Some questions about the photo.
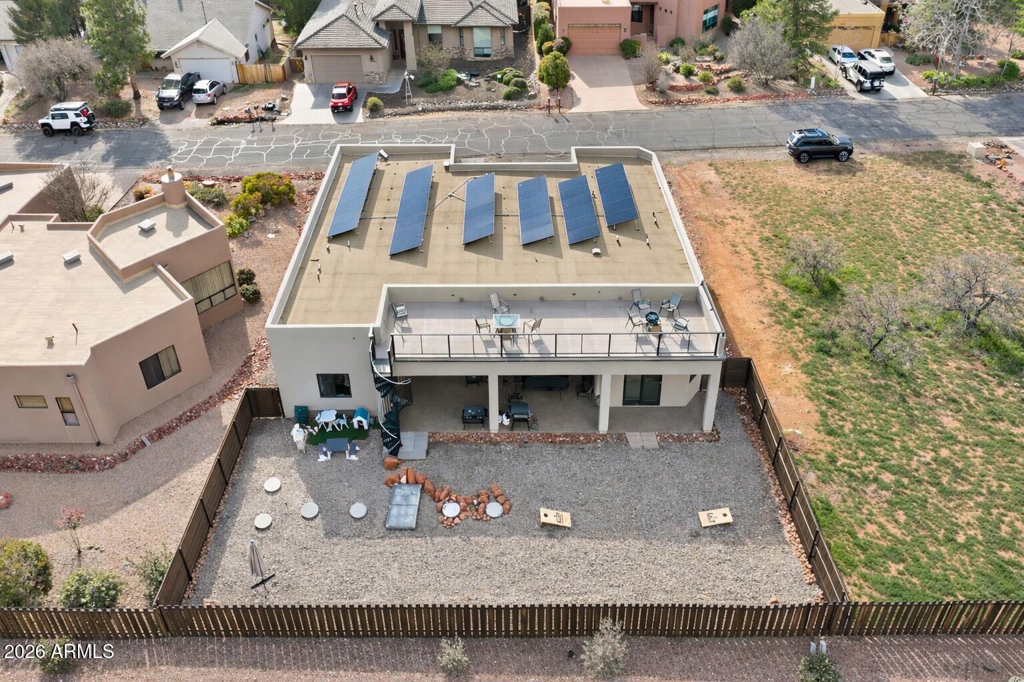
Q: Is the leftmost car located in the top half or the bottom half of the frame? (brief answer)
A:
top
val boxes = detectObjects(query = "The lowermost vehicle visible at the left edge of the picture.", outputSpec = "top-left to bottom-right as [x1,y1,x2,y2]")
[34,106,95,136]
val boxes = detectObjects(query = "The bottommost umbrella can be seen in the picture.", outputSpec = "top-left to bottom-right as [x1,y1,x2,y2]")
[247,538,278,588]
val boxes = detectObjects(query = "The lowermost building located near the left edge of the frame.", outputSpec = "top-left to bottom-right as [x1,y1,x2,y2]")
[0,162,243,449]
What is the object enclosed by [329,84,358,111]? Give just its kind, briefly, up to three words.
car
